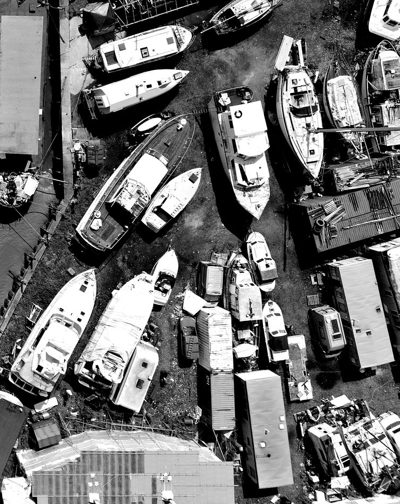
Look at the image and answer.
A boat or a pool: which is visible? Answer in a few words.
boat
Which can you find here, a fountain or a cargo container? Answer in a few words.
cargo container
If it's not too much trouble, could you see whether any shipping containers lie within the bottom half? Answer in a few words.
Yes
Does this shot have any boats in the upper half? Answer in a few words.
Yes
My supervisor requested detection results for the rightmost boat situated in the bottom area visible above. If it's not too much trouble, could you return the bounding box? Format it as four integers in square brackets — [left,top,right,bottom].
[374,409,400,469]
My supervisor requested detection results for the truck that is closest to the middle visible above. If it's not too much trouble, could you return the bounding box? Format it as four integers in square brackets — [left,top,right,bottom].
[193,258,223,306]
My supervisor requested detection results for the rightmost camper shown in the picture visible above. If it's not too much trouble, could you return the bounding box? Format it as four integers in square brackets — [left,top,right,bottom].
[301,302,346,358]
